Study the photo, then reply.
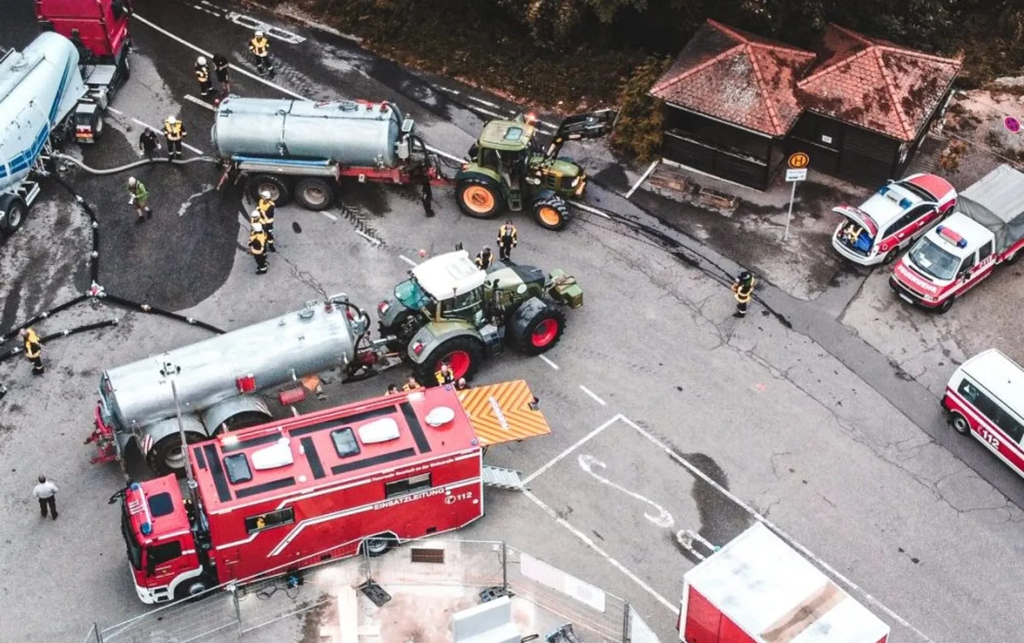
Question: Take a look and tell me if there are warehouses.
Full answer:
No, I can see no warehouse in this picture.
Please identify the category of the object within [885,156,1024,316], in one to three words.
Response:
truck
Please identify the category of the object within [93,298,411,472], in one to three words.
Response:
trailer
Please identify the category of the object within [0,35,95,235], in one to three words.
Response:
trailer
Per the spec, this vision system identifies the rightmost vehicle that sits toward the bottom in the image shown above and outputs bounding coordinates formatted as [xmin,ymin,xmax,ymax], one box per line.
[940,345,1024,478]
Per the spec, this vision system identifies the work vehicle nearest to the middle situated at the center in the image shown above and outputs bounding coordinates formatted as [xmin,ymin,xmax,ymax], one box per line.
[378,236,585,386]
